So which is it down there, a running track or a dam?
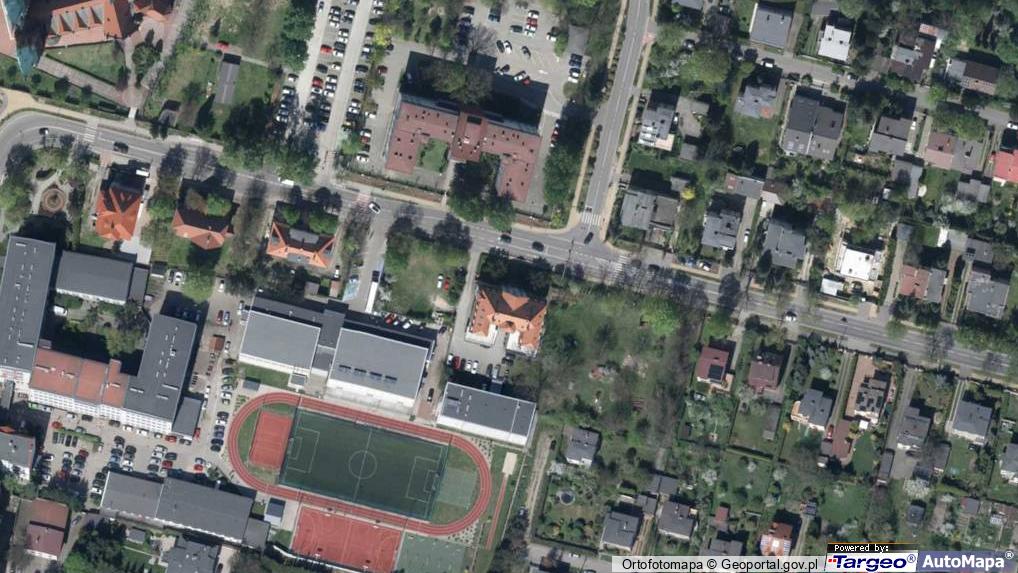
running track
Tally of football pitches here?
1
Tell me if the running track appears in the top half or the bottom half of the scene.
bottom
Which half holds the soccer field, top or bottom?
bottom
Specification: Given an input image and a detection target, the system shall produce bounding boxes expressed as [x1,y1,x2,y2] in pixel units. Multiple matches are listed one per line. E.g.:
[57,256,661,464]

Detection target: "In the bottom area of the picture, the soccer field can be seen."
[279,407,448,521]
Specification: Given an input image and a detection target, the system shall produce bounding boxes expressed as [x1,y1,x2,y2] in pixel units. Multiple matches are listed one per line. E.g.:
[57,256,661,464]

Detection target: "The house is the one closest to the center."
[465,292,547,359]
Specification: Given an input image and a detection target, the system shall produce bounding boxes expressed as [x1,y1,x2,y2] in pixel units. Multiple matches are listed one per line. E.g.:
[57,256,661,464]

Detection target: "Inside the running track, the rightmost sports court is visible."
[437,468,478,508]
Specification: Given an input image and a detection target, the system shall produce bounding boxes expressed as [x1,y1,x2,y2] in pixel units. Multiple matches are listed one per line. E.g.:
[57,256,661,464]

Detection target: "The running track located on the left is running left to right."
[227,391,492,535]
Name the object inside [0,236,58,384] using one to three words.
building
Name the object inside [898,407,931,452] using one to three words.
house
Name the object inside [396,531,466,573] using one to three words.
sports court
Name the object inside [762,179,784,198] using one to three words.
shed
